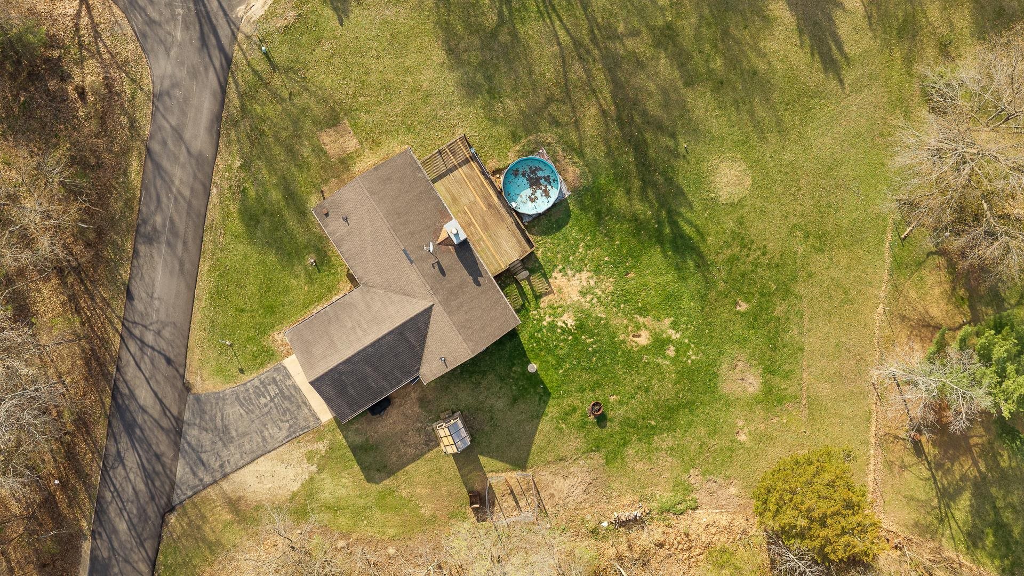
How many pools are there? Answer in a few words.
1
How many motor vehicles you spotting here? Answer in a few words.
0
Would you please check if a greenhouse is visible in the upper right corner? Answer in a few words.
No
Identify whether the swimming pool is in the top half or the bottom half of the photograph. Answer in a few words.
top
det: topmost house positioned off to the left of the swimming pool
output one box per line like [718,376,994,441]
[285,149,520,424]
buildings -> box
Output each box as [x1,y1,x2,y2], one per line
[435,408,476,454]
[285,149,520,424]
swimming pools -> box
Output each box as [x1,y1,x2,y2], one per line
[502,155,563,217]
